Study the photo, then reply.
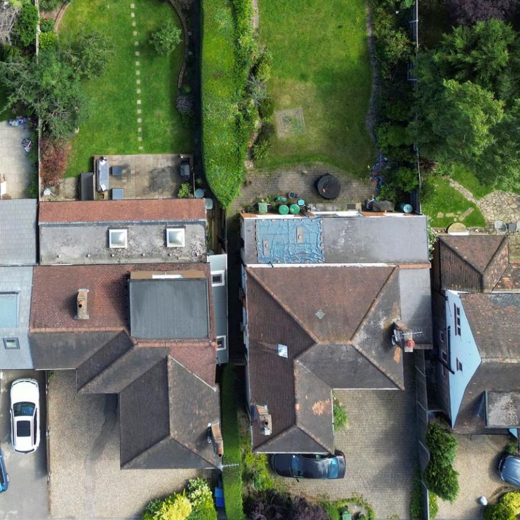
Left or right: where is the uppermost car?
left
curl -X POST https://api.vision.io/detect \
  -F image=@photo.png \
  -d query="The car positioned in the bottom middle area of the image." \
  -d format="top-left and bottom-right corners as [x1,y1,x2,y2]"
[273,451,349,489]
